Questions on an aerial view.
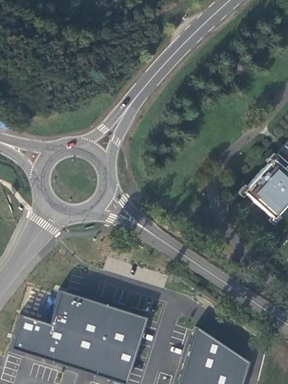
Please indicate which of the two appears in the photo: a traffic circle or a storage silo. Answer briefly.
traffic circle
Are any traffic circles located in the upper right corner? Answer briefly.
No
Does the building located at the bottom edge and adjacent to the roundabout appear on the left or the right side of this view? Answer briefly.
left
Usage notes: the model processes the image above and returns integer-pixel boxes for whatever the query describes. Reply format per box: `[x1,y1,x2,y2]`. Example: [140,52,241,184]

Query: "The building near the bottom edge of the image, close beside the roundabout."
[13,290,148,384]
